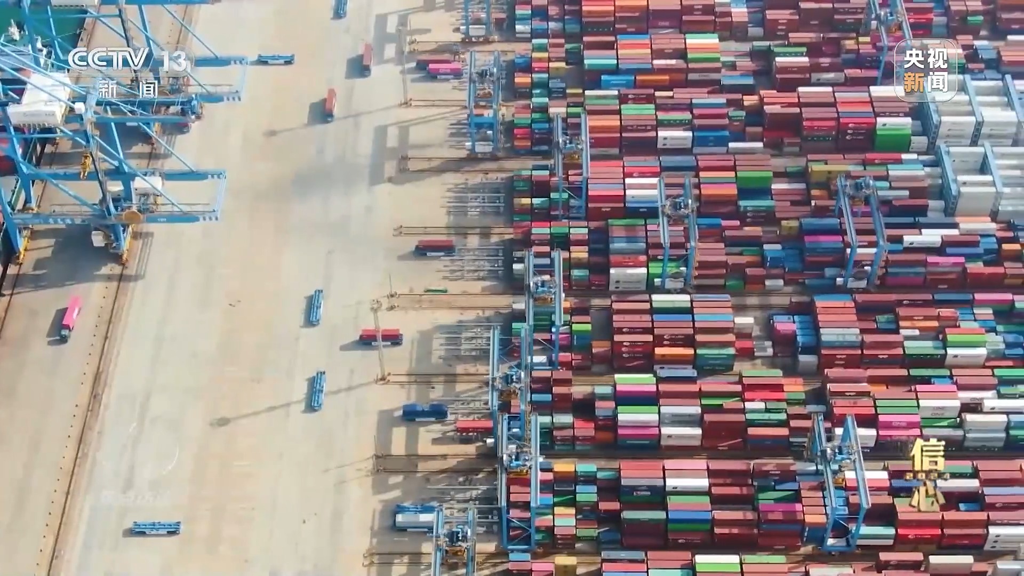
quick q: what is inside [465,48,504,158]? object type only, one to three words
container crane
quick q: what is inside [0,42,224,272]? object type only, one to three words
container crane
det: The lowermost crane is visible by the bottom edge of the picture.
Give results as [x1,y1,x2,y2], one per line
[431,507,482,576]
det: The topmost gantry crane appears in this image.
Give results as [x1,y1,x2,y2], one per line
[459,0,495,42]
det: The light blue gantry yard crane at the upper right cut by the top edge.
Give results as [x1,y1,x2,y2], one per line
[867,0,917,100]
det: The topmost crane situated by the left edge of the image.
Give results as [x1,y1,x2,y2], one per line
[0,0,247,148]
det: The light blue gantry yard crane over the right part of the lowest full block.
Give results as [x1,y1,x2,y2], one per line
[806,415,870,557]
